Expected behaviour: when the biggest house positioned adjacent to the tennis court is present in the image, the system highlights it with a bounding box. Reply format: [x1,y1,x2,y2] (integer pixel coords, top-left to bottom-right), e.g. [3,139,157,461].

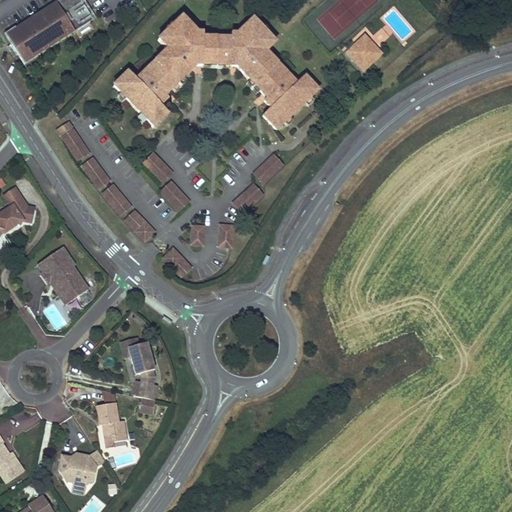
[114,12,320,130]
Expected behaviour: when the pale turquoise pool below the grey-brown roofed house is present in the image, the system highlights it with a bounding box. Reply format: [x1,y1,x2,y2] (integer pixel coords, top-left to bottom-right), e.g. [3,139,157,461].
[42,292,72,332]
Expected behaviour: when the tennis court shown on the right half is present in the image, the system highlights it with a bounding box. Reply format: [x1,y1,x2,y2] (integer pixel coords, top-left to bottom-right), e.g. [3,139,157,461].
[301,0,392,51]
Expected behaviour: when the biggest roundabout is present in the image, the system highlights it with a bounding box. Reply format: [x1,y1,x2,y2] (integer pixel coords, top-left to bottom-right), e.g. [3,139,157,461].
[195,293,298,396]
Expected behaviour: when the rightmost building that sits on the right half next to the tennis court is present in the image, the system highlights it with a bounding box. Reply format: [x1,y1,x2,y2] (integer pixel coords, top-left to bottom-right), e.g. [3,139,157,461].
[345,33,383,72]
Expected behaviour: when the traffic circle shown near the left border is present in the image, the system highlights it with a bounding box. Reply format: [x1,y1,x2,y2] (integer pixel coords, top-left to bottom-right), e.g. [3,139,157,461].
[7,350,63,404]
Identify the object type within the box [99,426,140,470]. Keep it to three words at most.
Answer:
swimming pool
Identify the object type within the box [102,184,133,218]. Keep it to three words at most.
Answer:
building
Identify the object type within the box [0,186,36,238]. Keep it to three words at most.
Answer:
house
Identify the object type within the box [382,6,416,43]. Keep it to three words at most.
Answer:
swimming pool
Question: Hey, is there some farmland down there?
Yes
